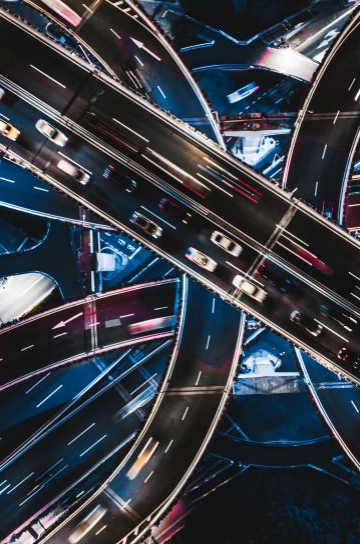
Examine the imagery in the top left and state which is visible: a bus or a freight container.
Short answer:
bus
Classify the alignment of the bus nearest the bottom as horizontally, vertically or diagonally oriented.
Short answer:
diagonally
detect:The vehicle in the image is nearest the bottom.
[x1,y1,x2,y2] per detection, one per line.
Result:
[70,499,108,543]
